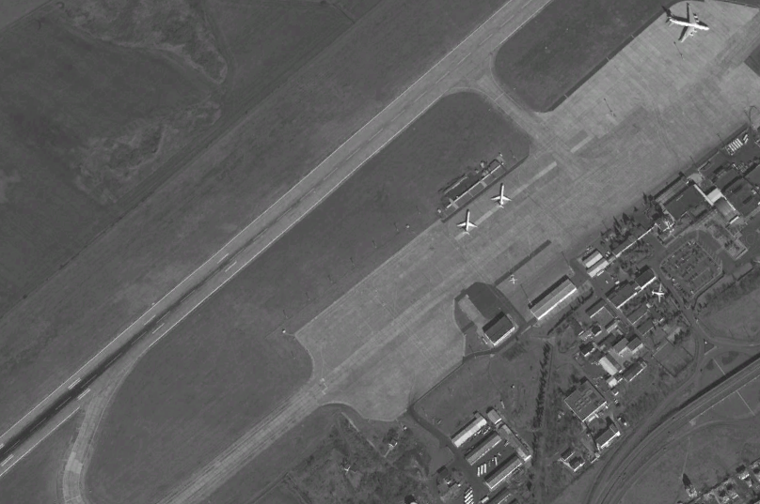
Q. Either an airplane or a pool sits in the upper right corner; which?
airplane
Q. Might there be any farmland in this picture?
Yes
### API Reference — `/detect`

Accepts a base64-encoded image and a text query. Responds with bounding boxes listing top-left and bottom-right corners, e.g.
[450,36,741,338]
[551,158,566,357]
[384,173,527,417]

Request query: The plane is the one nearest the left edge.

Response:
[459,211,479,233]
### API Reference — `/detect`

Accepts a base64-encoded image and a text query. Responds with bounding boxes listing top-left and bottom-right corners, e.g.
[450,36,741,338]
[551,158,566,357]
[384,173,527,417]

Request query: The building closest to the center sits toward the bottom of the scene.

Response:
[486,314,515,345]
